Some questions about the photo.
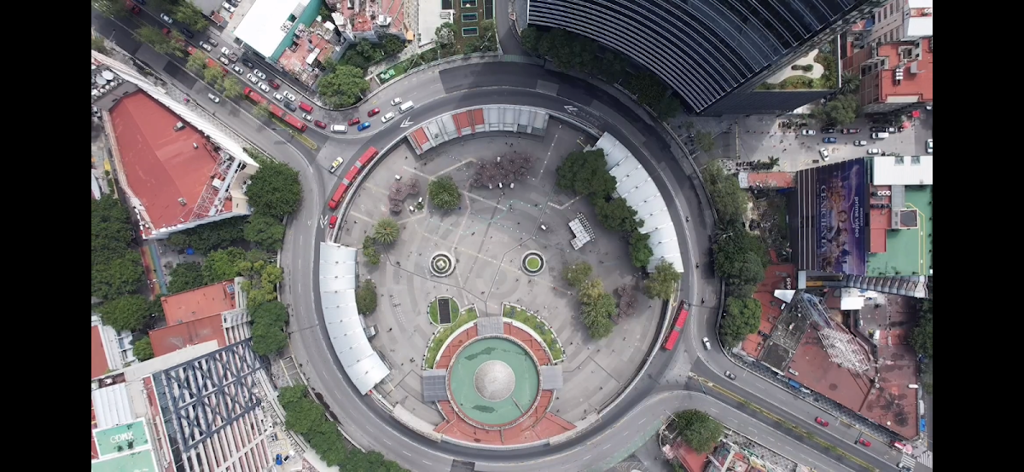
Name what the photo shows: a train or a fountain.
fountain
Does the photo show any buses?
Yes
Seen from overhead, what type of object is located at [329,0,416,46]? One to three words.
building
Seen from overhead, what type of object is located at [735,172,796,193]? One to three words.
house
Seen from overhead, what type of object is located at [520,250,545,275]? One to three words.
fountain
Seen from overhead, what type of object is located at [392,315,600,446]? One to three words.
building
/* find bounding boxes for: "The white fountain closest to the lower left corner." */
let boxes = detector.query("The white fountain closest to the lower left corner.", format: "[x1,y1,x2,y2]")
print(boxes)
[429,251,455,277]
